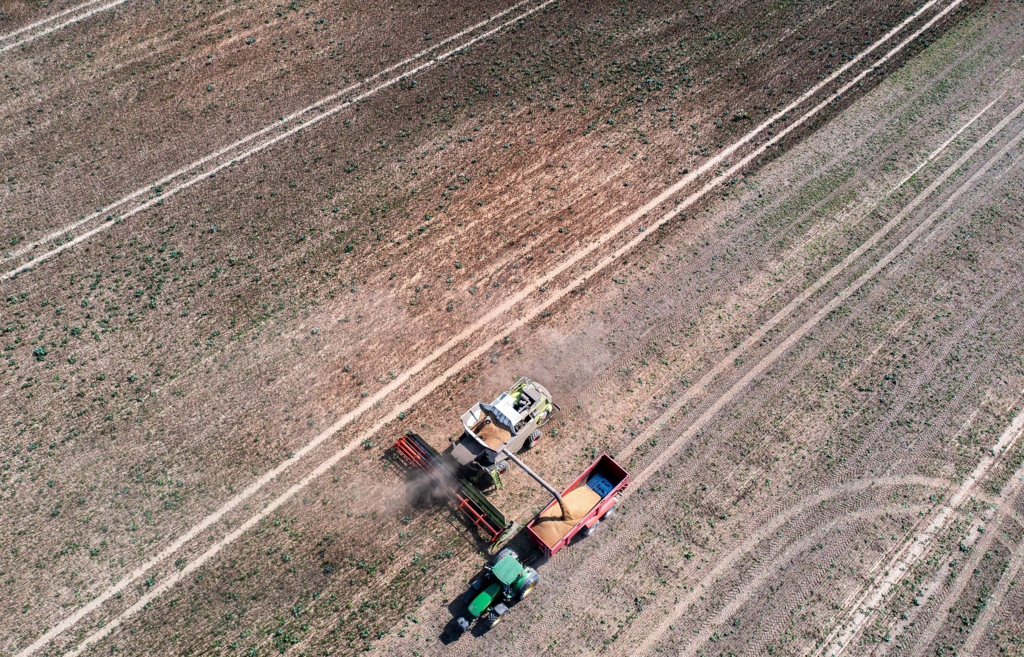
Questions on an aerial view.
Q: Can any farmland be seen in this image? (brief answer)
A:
Yes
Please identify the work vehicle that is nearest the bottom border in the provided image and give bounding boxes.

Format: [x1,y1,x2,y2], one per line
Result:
[456,546,539,634]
